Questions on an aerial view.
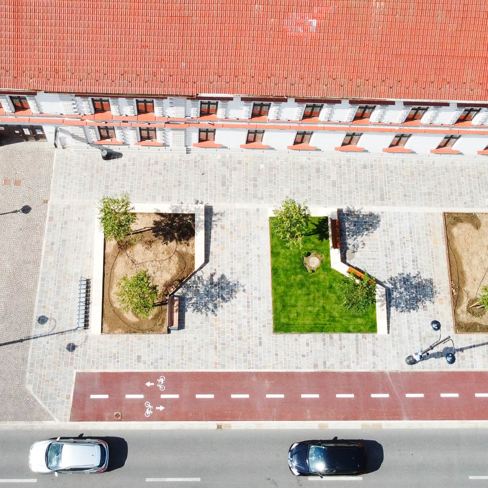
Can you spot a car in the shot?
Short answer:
Yes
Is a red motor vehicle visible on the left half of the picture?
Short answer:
No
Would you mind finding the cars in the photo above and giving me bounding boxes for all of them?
[285,437,366,480]
[28,434,108,479]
